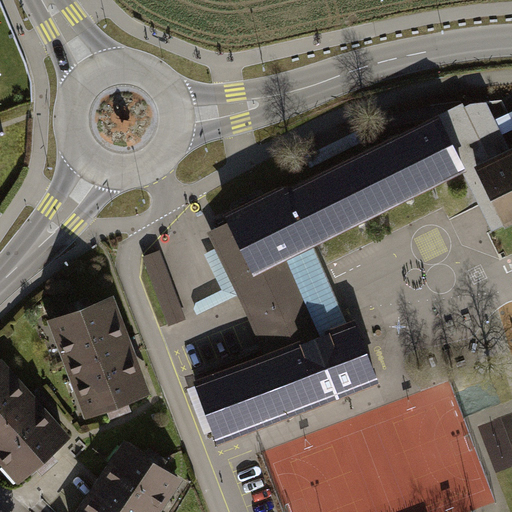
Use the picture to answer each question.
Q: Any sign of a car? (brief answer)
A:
Yes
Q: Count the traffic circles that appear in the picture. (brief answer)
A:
1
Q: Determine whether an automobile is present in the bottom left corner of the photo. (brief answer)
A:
Yes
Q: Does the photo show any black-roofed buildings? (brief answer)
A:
Yes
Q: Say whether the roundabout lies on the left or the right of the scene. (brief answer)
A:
left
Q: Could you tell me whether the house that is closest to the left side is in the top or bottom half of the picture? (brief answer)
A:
bottom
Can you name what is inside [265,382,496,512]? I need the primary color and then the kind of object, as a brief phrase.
red sports court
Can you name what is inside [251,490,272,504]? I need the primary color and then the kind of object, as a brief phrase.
red vehicle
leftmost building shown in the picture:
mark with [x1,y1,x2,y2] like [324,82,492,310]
[0,358,70,486]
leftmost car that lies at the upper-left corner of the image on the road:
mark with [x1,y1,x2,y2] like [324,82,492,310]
[54,43,68,69]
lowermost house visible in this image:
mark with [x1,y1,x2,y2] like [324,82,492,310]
[72,440,192,512]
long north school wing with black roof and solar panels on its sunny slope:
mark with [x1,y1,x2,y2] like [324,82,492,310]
[224,111,468,276]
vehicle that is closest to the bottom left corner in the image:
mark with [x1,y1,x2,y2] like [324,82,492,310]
[71,475,90,496]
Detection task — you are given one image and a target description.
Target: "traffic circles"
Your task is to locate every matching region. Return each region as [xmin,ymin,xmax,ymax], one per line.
[53,46,196,191]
